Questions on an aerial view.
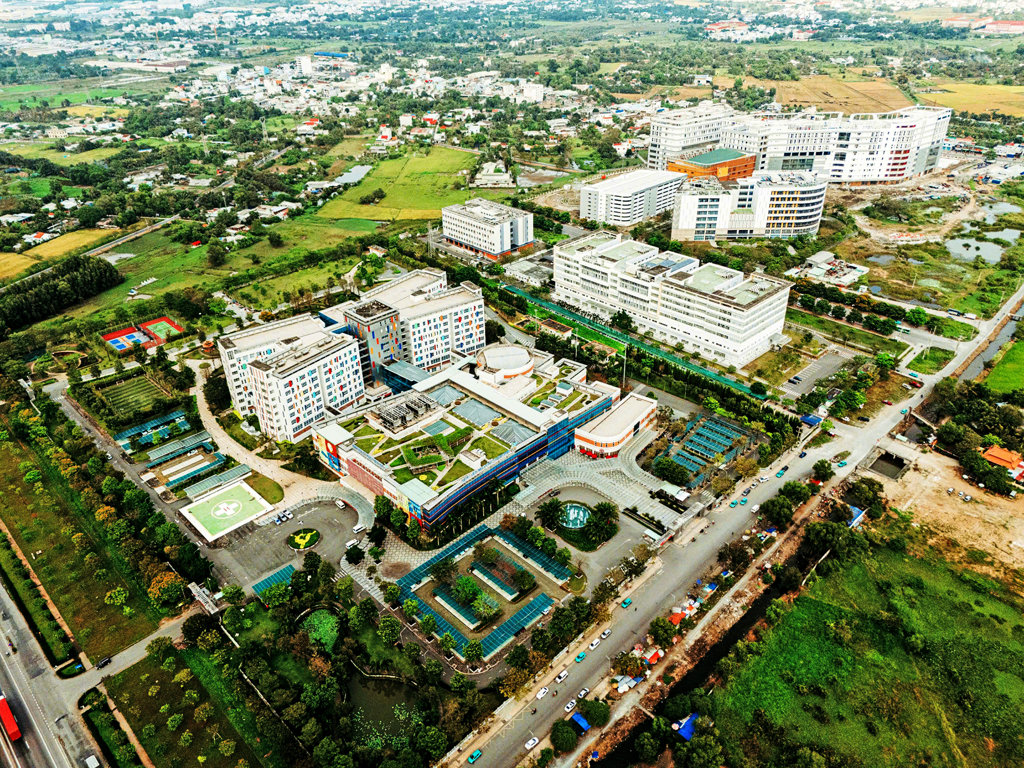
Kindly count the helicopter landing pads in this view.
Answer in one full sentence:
The picture shows just 1 helicopter landing pad.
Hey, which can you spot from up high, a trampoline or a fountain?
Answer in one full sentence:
Of the two, only a fountain appears.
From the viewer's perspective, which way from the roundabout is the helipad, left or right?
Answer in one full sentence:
It is on the left side of the roundabout that the helipad is positioned.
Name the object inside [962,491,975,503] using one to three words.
vehicle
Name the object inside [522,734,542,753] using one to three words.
car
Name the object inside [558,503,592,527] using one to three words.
fountain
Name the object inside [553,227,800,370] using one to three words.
building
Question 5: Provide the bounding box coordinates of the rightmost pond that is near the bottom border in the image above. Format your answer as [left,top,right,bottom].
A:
[347,677,425,749]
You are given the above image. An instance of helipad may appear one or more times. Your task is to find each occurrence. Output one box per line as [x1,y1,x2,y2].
[179,480,275,543]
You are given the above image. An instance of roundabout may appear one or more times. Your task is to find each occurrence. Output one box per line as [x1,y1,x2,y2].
[285,526,323,552]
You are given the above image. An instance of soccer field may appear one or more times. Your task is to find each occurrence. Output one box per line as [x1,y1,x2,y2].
[95,374,174,417]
